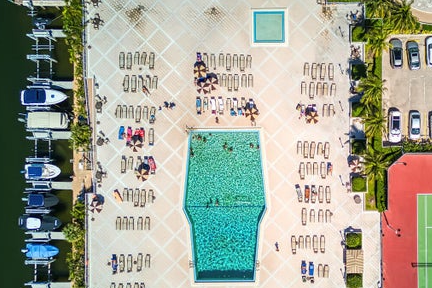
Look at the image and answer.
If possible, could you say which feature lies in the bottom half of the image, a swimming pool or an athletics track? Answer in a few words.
swimming pool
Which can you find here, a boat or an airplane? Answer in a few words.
boat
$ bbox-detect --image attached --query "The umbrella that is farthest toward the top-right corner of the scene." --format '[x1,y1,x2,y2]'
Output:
[305,112,320,126]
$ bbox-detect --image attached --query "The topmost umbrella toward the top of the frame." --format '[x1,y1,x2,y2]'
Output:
[193,64,207,77]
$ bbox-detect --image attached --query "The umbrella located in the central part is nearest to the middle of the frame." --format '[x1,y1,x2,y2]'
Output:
[244,107,259,121]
